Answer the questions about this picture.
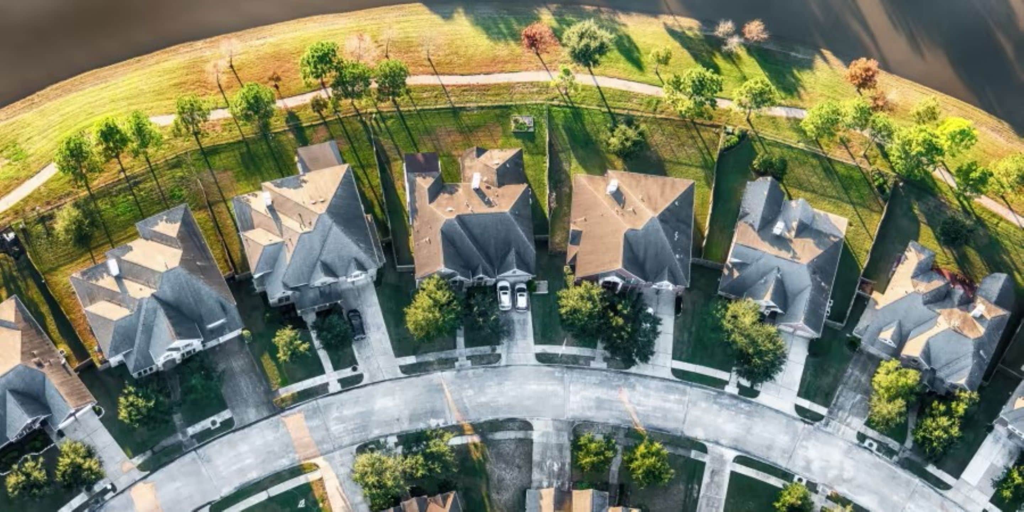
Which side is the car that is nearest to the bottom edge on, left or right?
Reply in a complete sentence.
It is on the left.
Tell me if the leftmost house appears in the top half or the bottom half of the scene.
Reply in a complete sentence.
The leftmost house is in the bottom half of the image.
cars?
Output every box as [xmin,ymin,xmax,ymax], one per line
[347,308,368,339]
[496,283,512,311]
[513,284,529,314]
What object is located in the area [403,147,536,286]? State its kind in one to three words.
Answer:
house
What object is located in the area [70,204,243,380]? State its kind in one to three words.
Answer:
house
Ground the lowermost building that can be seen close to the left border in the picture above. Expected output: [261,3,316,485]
[0,294,98,444]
